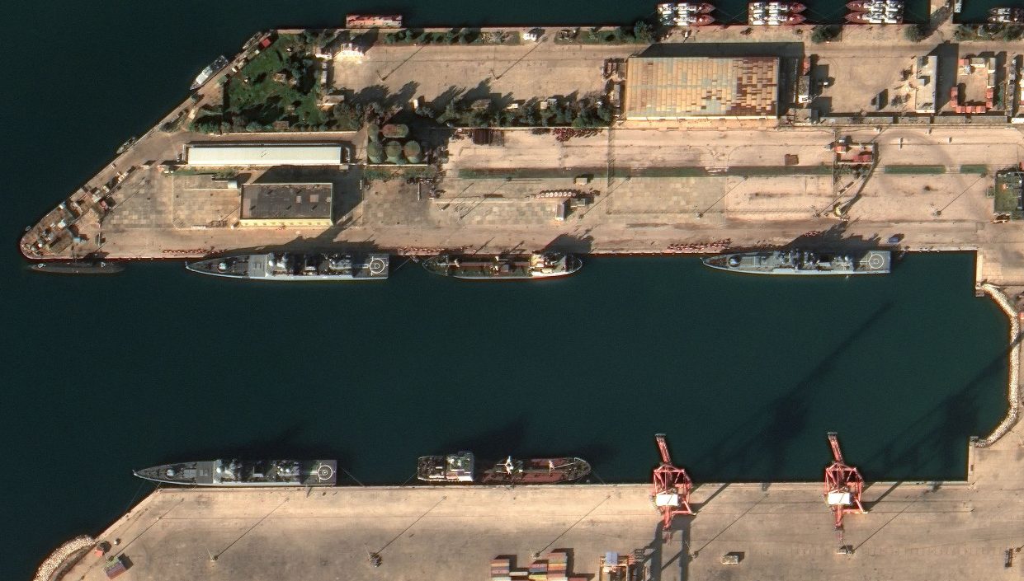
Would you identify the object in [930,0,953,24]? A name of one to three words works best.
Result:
pier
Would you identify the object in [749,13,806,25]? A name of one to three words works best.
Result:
boat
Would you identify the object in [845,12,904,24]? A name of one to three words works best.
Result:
boat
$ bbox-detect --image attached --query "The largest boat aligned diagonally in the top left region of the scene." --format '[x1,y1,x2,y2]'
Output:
[190,55,230,90]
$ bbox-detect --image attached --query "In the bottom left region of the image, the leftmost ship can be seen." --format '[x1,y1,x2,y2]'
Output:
[134,459,338,487]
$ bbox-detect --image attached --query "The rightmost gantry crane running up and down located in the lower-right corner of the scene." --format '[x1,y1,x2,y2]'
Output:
[823,437,868,544]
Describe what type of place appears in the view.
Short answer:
port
